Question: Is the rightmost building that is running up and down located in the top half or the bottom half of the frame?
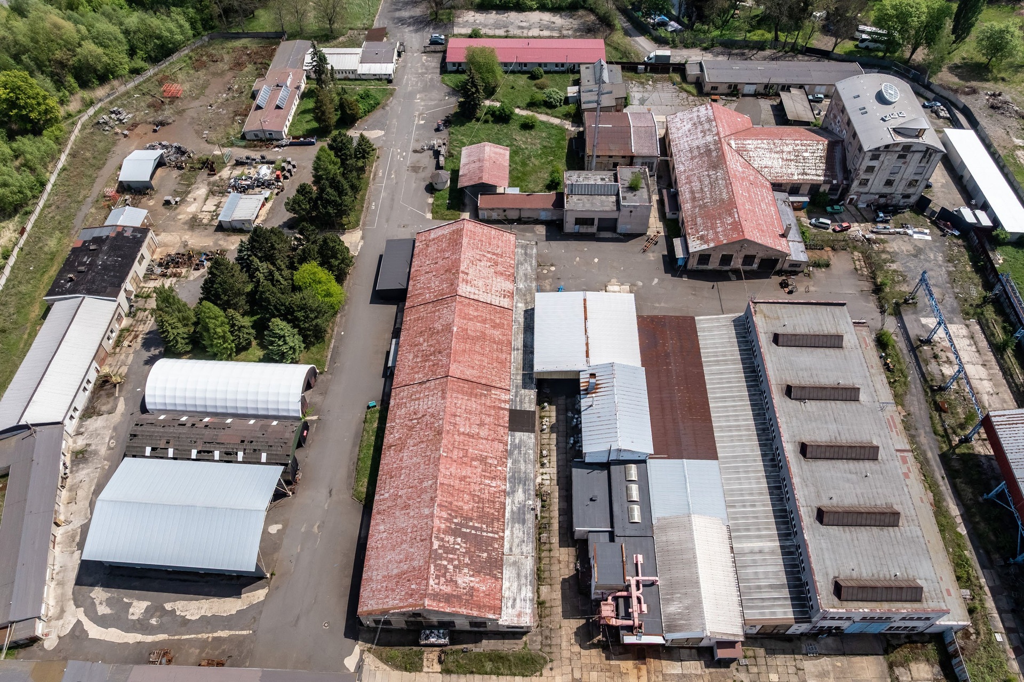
bottom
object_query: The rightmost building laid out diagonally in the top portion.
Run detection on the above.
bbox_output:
[938,127,1024,248]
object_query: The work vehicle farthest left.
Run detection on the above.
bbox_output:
[204,160,217,176]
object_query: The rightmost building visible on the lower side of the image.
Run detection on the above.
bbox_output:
[967,411,1024,551]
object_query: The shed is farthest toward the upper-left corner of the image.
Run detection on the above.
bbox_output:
[118,151,168,192]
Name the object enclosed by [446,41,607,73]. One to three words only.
house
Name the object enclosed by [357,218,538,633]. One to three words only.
building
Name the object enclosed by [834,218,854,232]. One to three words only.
car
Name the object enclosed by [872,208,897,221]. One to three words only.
vehicle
